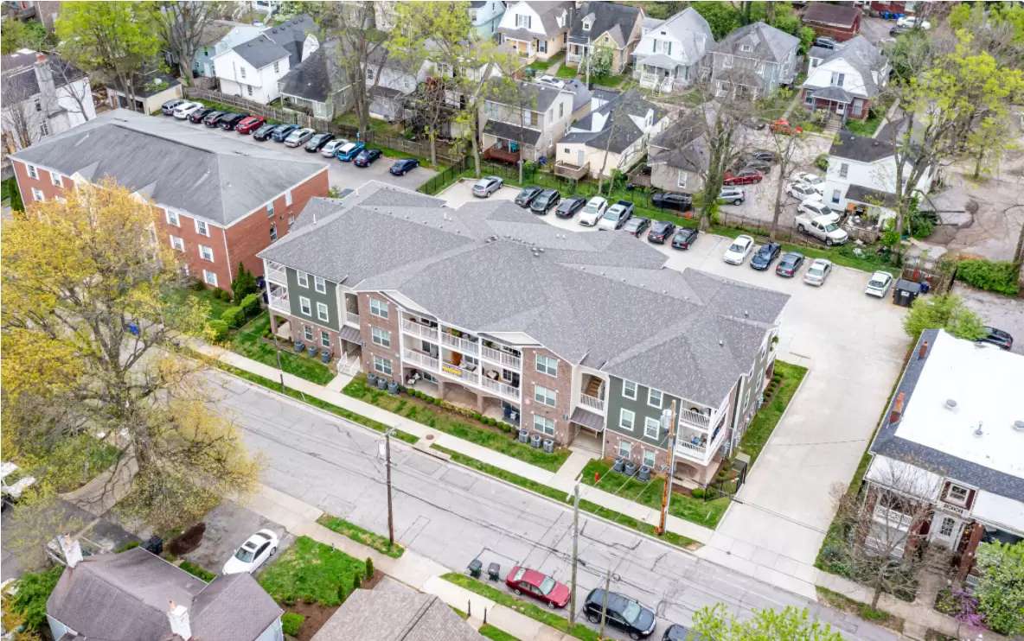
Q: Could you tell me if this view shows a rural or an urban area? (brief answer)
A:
urban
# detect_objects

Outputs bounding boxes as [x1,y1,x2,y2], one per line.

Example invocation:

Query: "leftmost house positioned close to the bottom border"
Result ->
[39,542,284,641]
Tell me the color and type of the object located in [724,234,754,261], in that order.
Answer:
white car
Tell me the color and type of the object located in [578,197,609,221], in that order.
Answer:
white car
